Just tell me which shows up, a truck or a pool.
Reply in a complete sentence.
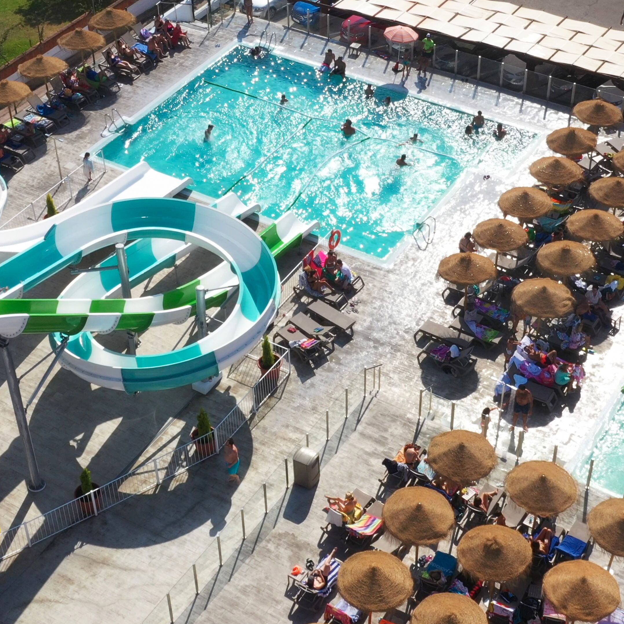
The one in the frame is a pool.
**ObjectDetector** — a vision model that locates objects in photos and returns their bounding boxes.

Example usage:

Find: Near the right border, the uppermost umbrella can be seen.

[568,101,624,138]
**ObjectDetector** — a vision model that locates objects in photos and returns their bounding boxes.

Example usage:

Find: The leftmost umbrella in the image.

[0,77,35,133]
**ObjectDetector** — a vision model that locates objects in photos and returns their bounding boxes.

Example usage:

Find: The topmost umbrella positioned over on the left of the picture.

[86,8,134,53]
